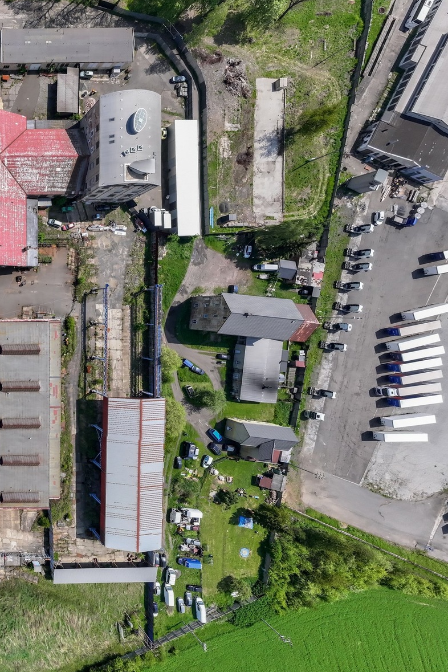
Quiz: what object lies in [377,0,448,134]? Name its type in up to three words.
building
